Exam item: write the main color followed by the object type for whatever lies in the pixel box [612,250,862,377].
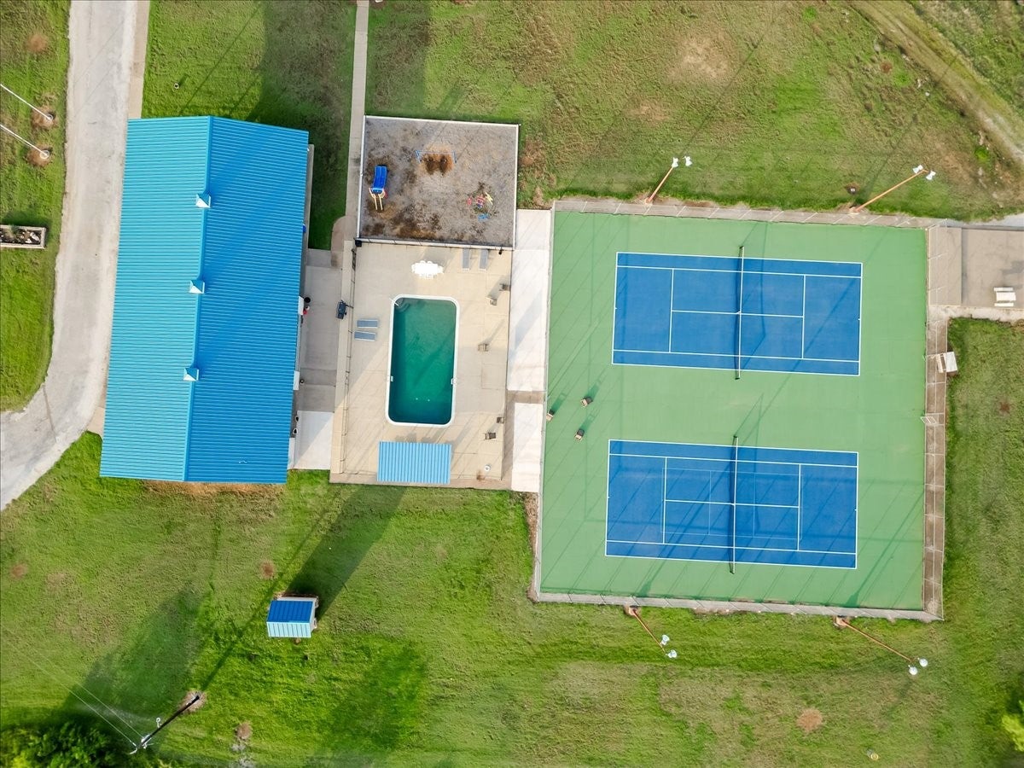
blue tennis court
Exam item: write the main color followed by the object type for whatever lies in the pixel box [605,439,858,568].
blue tennis court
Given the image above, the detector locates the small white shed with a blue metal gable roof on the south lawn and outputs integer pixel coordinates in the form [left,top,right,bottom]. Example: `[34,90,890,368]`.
[268,594,324,638]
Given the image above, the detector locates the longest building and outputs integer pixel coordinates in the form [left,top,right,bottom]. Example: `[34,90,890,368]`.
[98,115,312,485]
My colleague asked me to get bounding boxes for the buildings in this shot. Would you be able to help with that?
[268,594,324,638]
[98,115,312,485]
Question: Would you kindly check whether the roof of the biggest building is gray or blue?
blue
